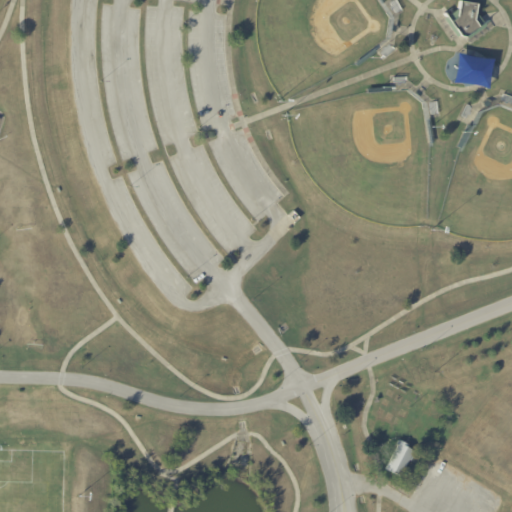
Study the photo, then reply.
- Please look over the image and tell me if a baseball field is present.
Yes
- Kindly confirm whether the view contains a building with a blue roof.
Yes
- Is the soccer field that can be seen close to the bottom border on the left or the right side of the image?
left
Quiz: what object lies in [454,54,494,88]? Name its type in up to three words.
building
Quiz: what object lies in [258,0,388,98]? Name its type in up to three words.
baseball field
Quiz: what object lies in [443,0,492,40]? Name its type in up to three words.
building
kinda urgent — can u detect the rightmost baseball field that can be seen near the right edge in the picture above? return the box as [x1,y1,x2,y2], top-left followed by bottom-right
[438,106,512,240]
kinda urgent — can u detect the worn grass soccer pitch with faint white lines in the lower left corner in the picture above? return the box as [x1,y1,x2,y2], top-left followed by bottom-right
[0,448,66,512]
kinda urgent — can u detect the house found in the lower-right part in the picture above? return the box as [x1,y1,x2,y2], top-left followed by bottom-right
[386,440,414,474]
